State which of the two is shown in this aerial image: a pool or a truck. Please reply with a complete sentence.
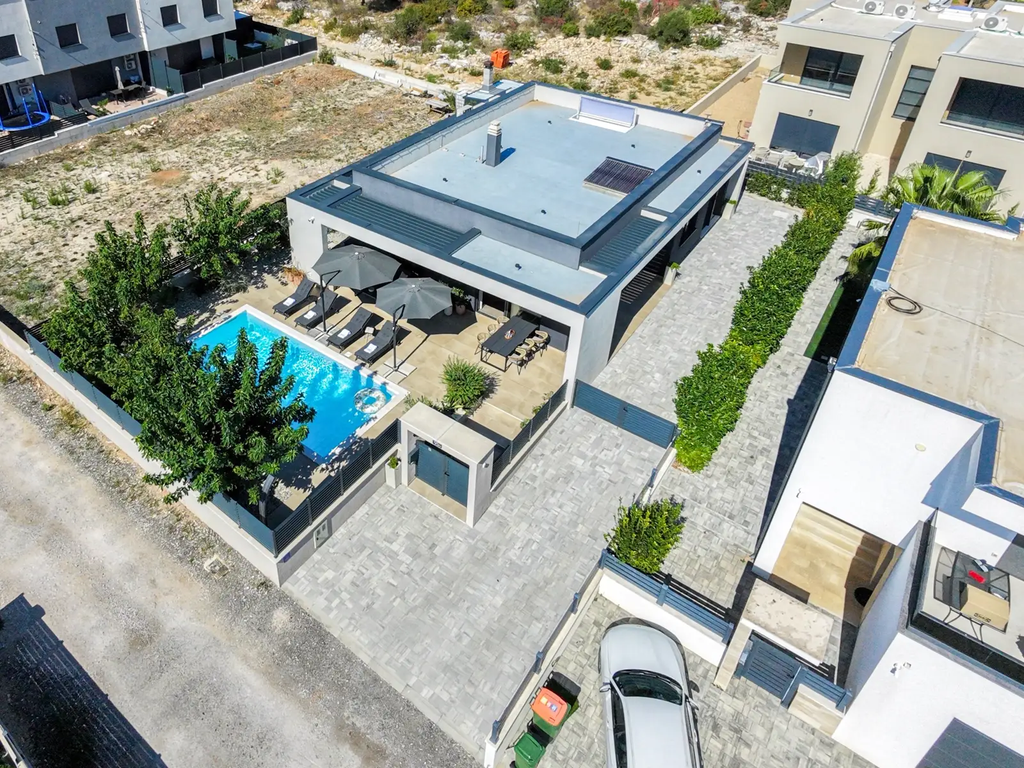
There is a pool in the scene.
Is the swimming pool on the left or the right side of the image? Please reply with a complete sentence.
You can find the swimming pool on the left side of the picture.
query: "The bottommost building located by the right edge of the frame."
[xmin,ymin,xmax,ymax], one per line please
[742,202,1024,768]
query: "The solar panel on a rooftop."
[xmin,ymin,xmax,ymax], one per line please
[577,154,659,201]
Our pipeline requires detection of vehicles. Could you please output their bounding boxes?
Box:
[602,627,705,768]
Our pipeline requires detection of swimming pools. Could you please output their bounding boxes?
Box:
[158,307,409,464]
